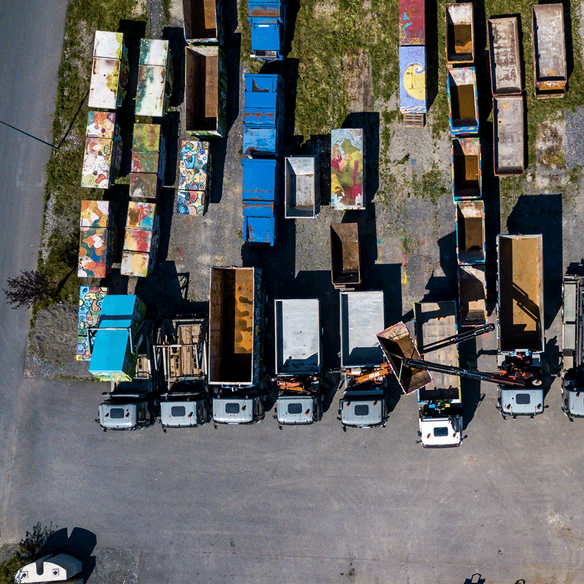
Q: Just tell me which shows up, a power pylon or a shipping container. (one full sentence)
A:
The one in the frame is a shipping container.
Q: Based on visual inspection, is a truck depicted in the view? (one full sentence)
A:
Yes, there's a truck here.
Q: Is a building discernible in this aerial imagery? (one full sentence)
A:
No, the frame has no building in it.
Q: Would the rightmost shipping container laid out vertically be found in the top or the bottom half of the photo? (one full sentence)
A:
You can find the rightmost shipping container laid out vertically in the top half.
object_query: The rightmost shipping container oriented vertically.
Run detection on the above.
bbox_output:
[531,3,567,82]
